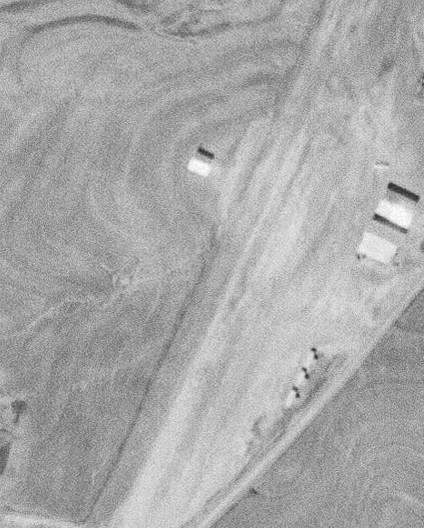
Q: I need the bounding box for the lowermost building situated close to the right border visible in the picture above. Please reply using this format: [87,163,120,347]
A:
[359,218,405,264]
